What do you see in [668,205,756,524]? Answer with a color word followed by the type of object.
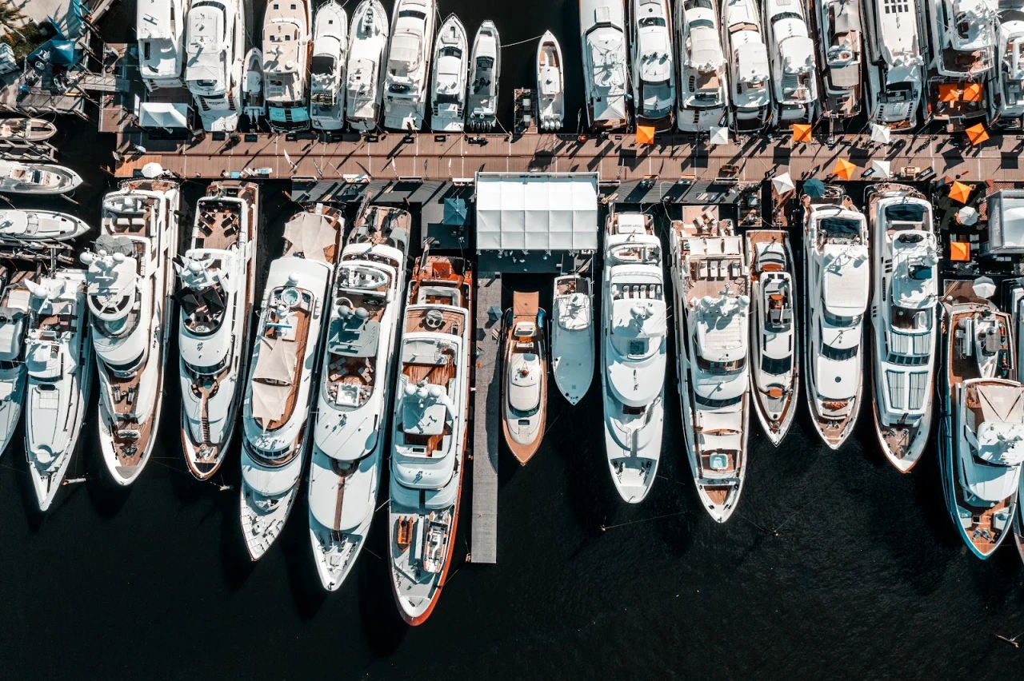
white boat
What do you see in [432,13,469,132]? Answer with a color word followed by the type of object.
white boat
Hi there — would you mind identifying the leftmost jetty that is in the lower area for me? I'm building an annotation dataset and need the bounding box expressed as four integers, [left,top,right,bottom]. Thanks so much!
[471,273,502,564]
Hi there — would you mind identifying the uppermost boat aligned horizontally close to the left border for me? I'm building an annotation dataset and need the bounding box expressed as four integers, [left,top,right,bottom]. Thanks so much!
[0,119,58,143]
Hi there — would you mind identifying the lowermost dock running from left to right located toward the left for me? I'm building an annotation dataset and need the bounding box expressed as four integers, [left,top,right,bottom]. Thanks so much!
[292,178,477,250]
